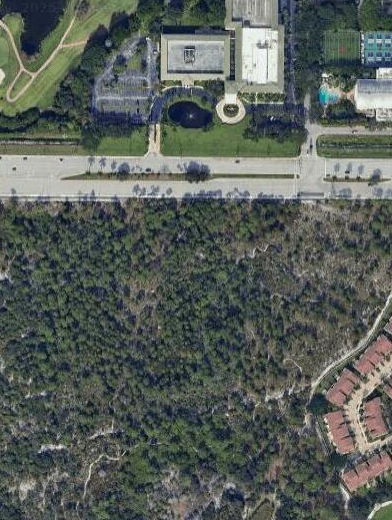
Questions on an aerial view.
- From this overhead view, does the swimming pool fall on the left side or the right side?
right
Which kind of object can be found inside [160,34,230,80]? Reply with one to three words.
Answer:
building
